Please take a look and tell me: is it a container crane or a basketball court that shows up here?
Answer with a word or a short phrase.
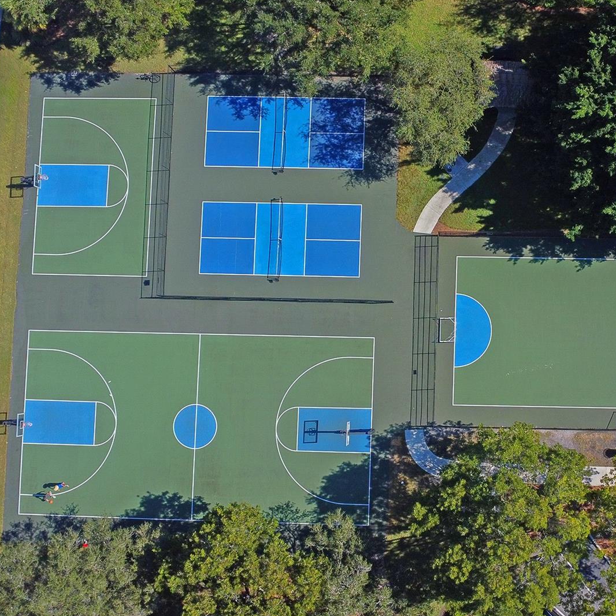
basketball court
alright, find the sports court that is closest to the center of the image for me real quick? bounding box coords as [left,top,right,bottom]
[199,201,362,277]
